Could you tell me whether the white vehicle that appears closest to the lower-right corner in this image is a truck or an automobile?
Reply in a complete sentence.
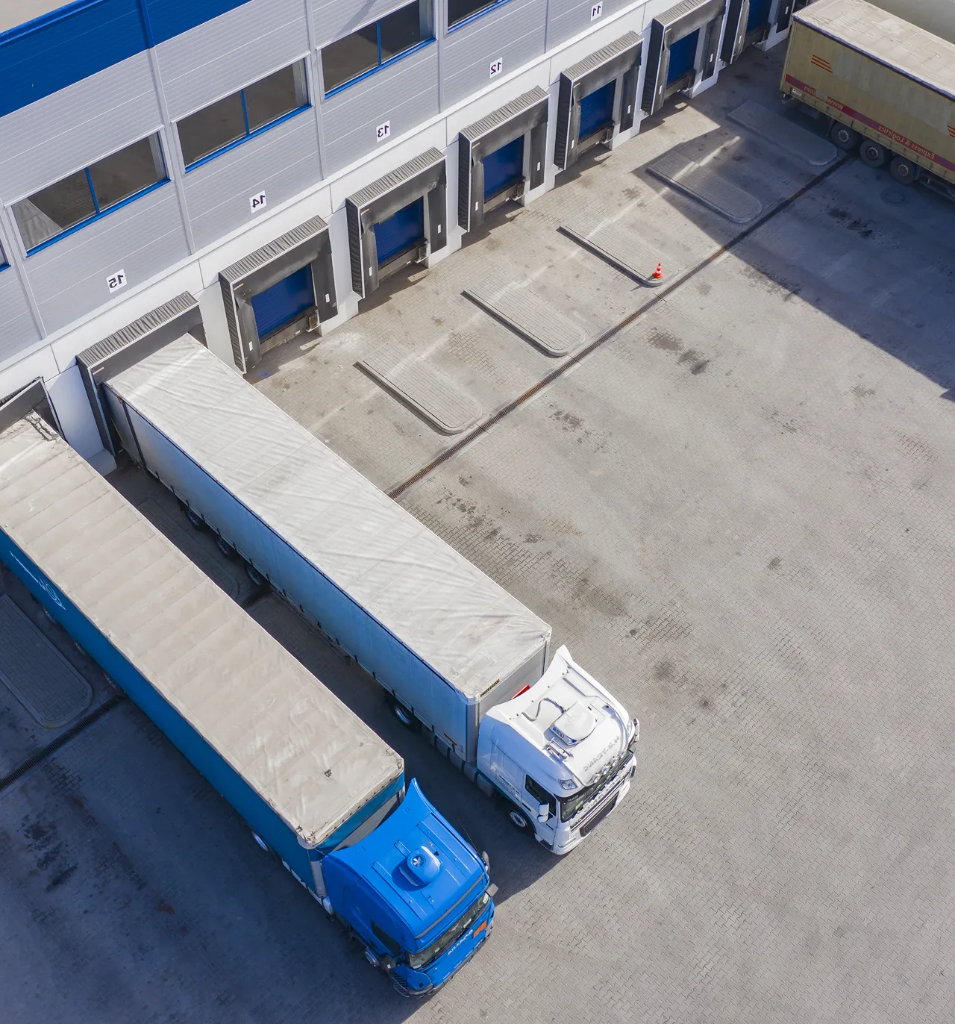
I'd identify the white vehicle that appears closest to the lower-right corner as a truck.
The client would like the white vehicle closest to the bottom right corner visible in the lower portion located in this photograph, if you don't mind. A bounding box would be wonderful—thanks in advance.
[391,642,639,853]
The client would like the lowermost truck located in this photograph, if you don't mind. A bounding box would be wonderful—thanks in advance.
[321,777,497,1006]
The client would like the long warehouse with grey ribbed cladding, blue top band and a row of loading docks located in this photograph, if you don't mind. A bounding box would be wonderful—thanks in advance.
[0,0,813,460]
